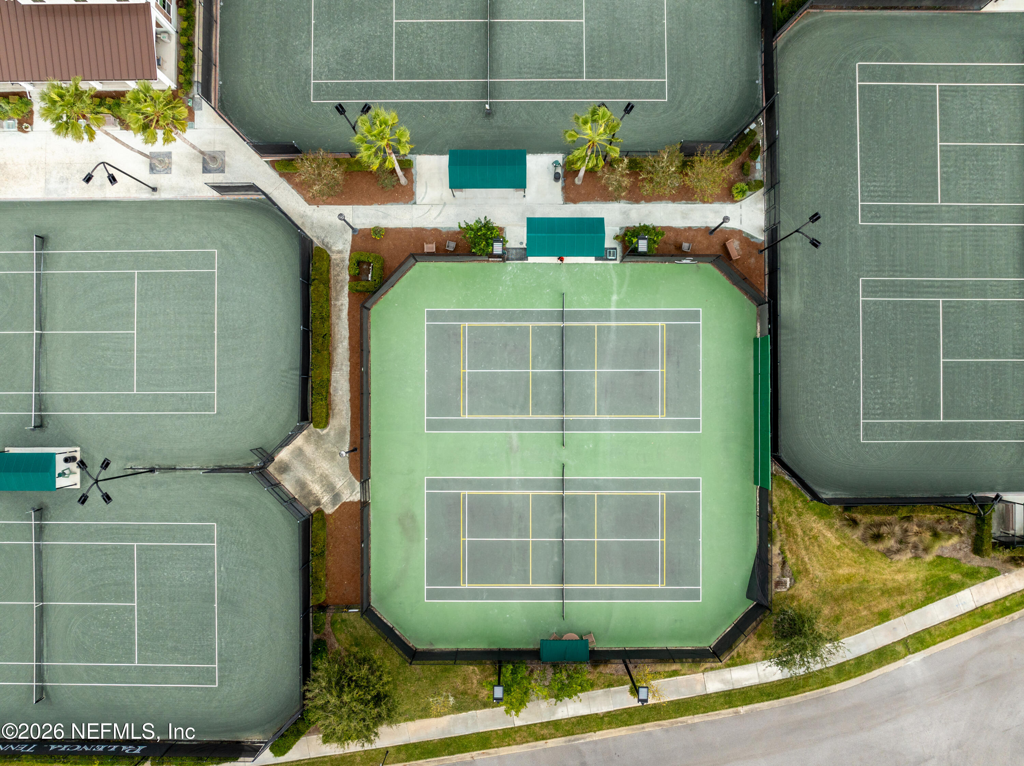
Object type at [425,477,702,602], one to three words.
sports court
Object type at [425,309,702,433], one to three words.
sports court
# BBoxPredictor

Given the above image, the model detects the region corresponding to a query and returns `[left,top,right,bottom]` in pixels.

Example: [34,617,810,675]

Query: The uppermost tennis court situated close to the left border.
[0,195,307,468]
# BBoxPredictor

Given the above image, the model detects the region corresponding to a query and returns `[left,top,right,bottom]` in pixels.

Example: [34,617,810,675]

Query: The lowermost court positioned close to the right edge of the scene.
[773,251,1024,499]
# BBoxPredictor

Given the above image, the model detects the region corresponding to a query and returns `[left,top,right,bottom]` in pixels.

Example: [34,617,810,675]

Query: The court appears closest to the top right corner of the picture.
[766,12,1024,251]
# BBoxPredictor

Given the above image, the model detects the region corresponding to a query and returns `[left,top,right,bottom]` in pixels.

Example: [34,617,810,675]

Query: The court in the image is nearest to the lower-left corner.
[0,468,310,739]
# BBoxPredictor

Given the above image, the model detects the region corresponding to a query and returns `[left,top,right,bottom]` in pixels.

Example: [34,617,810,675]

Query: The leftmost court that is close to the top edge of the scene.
[219,0,763,156]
